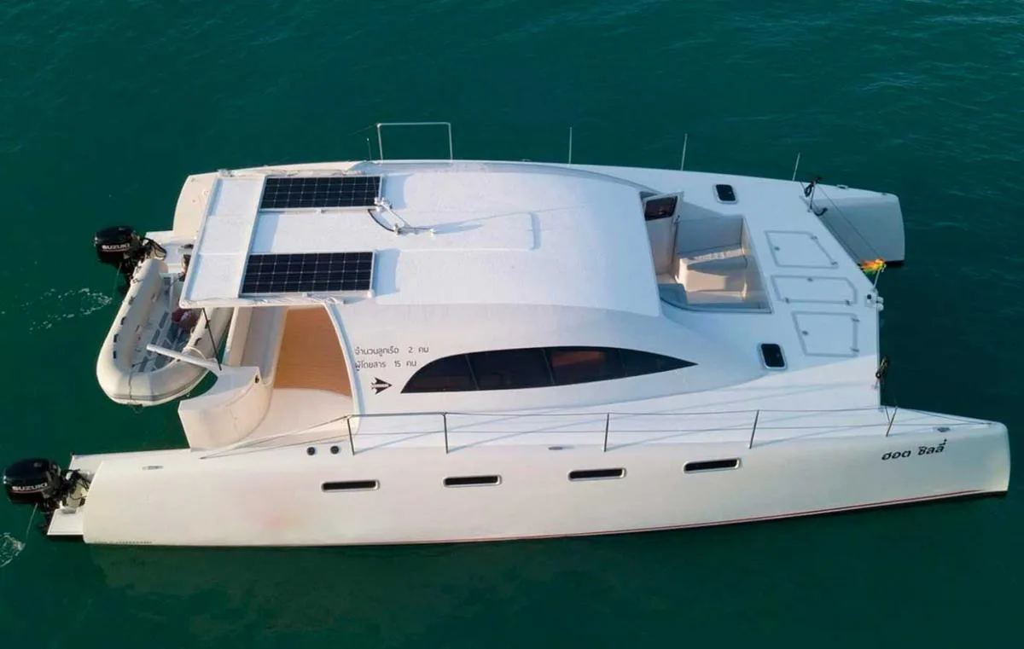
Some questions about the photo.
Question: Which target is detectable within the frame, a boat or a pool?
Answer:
boat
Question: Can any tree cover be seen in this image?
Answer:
No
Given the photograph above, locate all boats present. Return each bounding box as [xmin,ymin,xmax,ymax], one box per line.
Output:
[5,124,1006,546]
[98,254,233,438]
